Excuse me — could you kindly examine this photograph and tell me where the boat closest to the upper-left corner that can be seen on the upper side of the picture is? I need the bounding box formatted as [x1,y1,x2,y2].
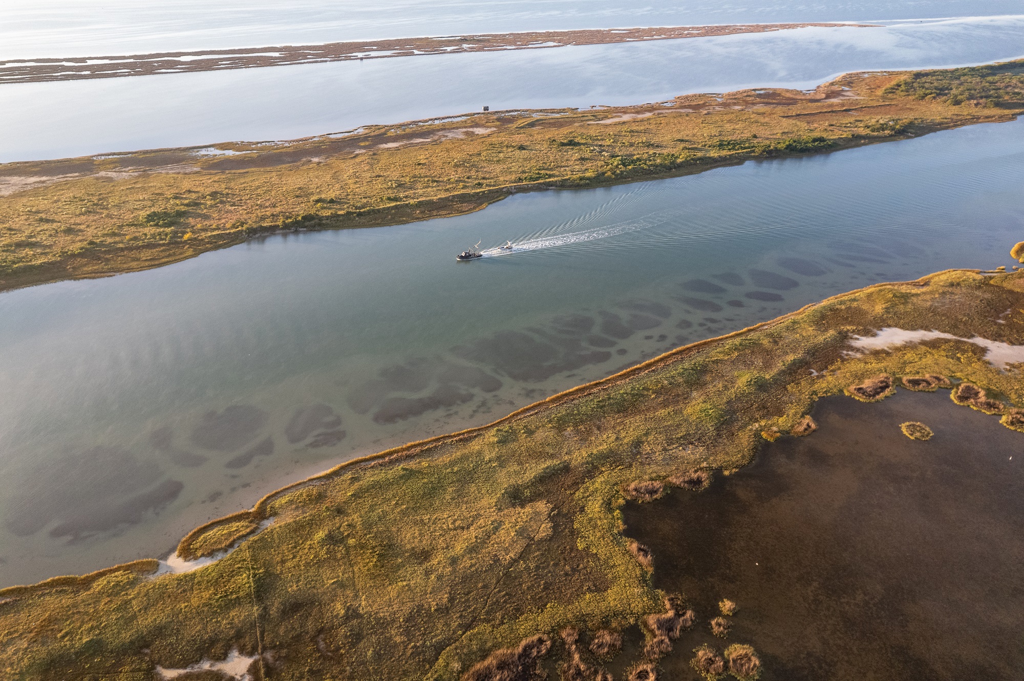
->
[456,236,483,258]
